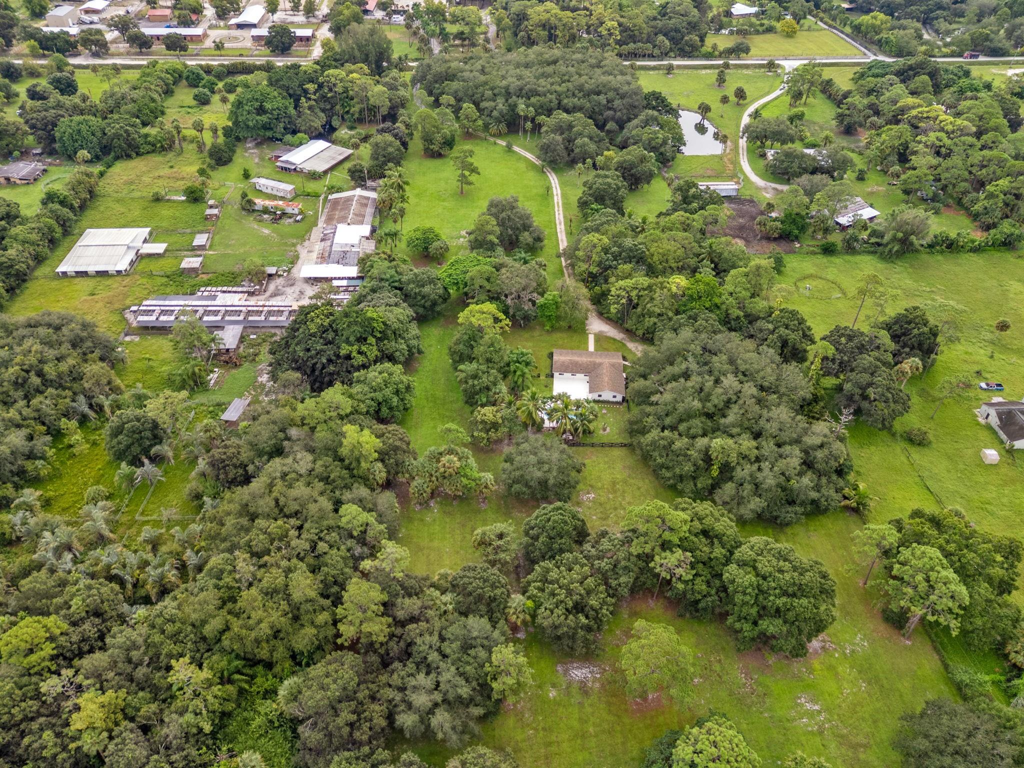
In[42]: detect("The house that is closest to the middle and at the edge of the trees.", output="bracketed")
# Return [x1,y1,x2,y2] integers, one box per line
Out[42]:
[554,349,626,402]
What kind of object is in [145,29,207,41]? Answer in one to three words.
building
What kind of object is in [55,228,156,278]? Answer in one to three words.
barn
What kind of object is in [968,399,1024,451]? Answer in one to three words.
house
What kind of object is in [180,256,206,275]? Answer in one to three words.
shed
